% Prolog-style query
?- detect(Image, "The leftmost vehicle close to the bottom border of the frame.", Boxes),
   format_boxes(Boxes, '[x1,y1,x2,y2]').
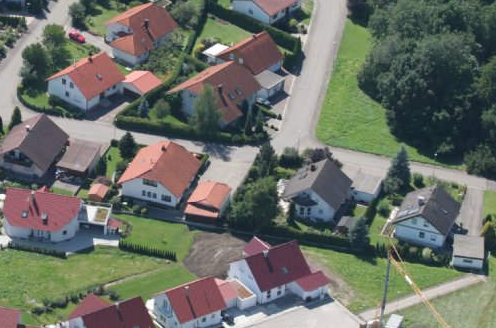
[221,310,237,326]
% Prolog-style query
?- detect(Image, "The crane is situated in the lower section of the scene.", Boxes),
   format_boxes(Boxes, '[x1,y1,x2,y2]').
[374,235,453,328]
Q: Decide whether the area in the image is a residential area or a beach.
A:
residential area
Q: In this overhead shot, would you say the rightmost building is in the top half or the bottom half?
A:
bottom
